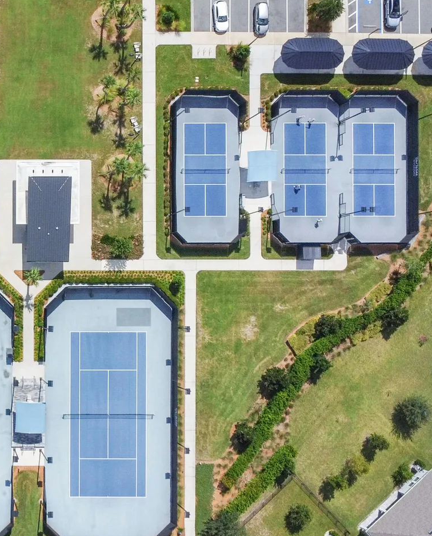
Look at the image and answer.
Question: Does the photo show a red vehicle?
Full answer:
No, the scene contains no red vehicle.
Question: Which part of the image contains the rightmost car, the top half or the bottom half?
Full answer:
You can find the rightmost car in the top half.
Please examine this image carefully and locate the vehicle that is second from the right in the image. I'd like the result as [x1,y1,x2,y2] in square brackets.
[252,3,269,37]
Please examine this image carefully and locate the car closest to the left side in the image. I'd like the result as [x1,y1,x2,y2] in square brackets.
[212,2,229,34]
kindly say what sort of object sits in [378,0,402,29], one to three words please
car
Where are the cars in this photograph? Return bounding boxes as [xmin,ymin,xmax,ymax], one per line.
[378,0,402,29]
[252,3,269,37]
[212,2,229,34]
